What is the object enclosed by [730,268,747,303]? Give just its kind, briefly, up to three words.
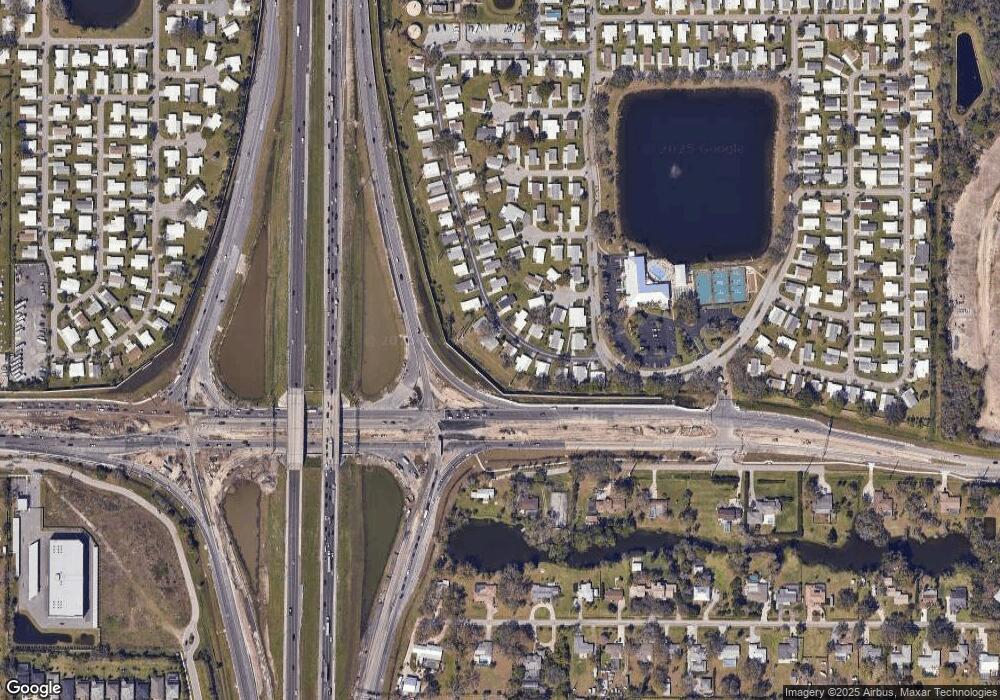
tennis court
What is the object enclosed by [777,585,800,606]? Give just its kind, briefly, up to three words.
house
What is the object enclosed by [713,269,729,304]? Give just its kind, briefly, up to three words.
tennis court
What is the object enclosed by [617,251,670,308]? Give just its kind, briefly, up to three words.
building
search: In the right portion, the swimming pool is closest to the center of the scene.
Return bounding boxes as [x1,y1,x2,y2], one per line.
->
[648,263,667,280]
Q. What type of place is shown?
residential area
